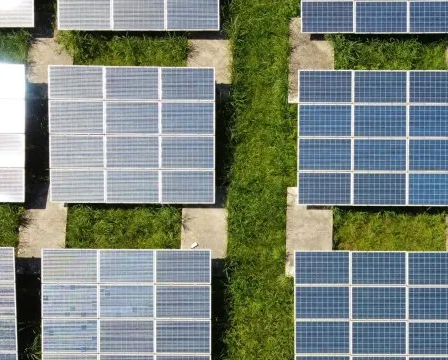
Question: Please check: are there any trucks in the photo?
No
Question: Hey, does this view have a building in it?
No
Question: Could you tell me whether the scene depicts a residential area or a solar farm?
solar farm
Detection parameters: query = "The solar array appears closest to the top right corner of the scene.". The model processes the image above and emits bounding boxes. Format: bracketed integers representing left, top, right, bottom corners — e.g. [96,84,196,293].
[301,0,448,33]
